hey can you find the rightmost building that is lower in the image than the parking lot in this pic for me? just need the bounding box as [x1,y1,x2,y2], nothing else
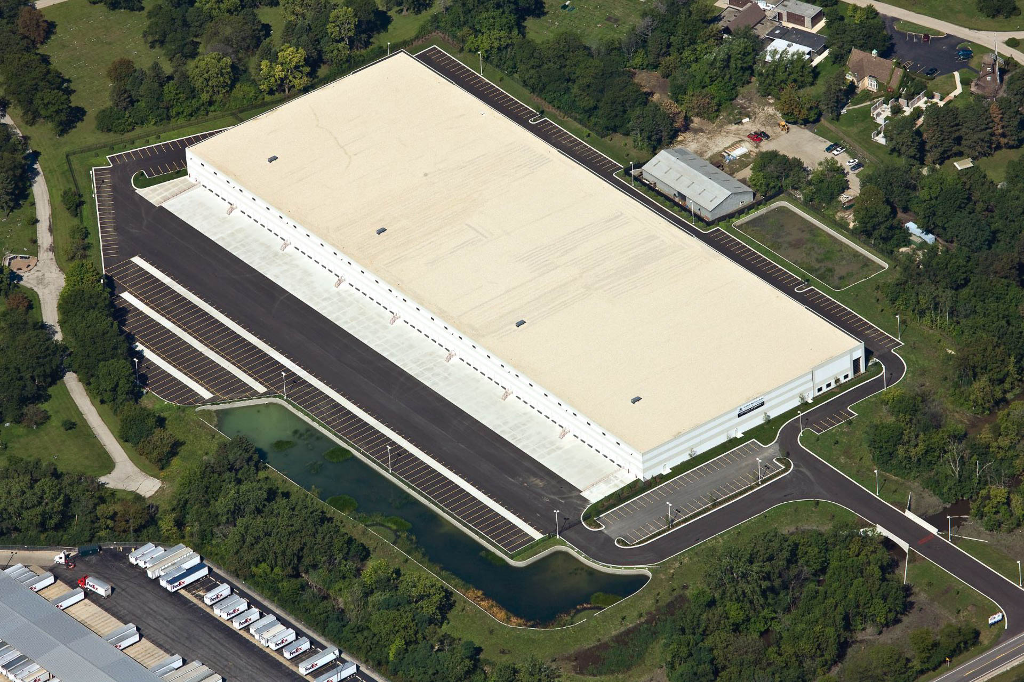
[903,221,934,245]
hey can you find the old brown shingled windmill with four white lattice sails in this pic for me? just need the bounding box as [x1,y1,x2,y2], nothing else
[969,33,1006,101]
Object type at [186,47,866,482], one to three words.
warehouse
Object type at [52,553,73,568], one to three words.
vehicle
